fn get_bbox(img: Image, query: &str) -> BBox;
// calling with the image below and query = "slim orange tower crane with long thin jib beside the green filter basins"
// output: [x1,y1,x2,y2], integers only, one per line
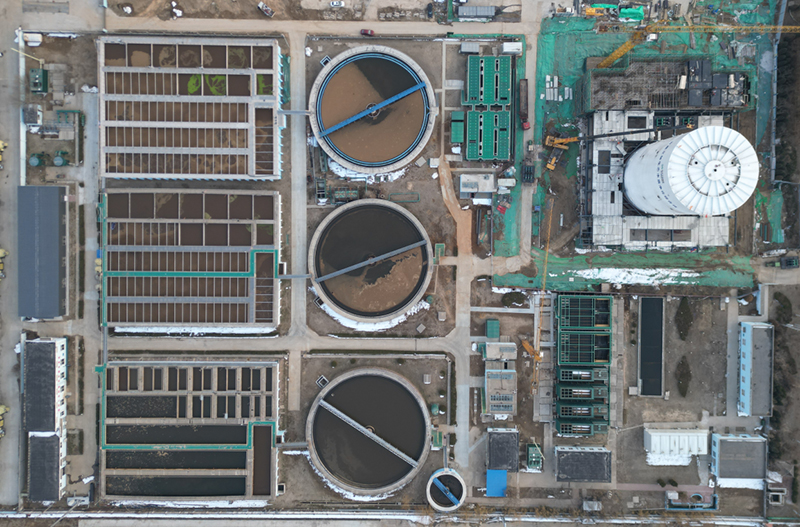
[513,197,556,397]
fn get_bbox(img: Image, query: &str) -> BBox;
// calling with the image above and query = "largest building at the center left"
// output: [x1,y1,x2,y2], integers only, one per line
[18,186,72,316]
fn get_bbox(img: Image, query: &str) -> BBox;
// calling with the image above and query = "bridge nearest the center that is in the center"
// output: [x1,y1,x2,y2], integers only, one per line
[315,240,427,283]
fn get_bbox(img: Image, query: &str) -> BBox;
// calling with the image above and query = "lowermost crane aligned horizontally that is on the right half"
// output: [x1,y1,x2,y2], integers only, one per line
[543,123,693,175]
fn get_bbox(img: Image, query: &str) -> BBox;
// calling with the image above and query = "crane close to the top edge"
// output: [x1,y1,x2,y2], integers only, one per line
[590,22,800,70]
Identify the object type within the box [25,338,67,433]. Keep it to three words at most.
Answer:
building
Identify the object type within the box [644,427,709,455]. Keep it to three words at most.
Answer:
shed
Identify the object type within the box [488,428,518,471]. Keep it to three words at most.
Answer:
house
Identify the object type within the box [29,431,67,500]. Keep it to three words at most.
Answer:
building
